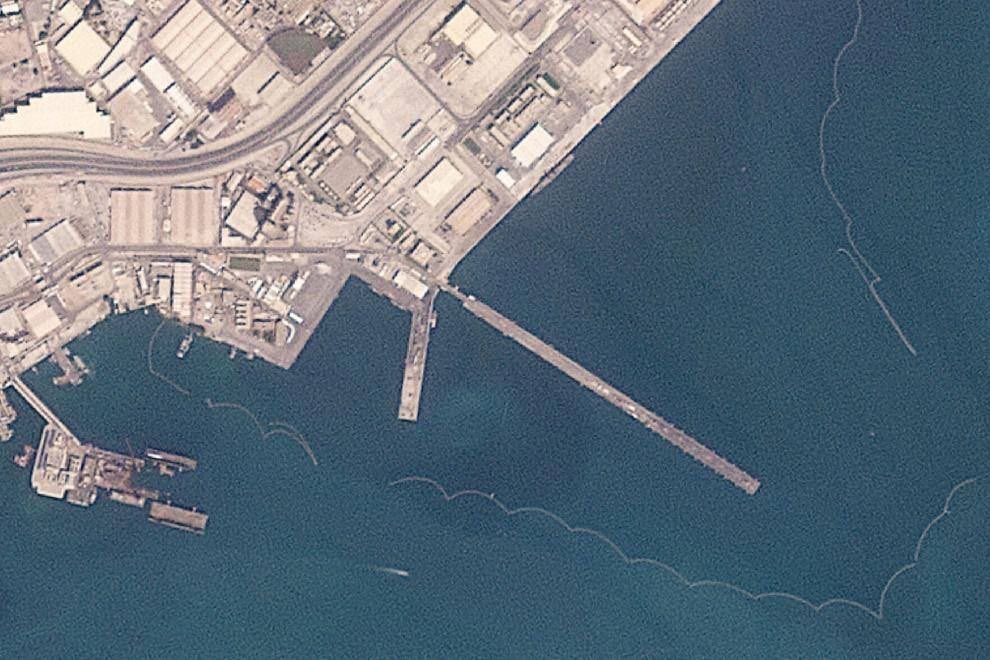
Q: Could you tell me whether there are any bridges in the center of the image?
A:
No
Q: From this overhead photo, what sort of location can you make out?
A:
port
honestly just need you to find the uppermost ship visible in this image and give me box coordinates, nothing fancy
[533,156,574,196]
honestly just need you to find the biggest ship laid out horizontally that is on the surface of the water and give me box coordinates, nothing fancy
[109,492,145,506]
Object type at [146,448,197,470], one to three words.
pier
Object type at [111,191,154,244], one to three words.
building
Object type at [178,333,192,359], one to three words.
ship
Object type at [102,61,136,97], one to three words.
building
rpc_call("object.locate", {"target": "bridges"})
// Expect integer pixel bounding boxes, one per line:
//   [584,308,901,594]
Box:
[9,375,79,445]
